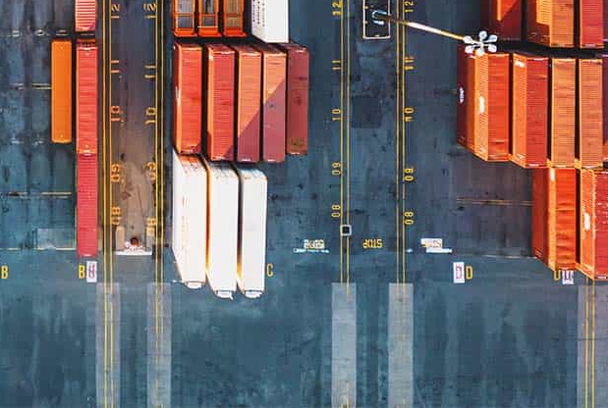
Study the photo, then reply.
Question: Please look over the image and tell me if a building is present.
No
